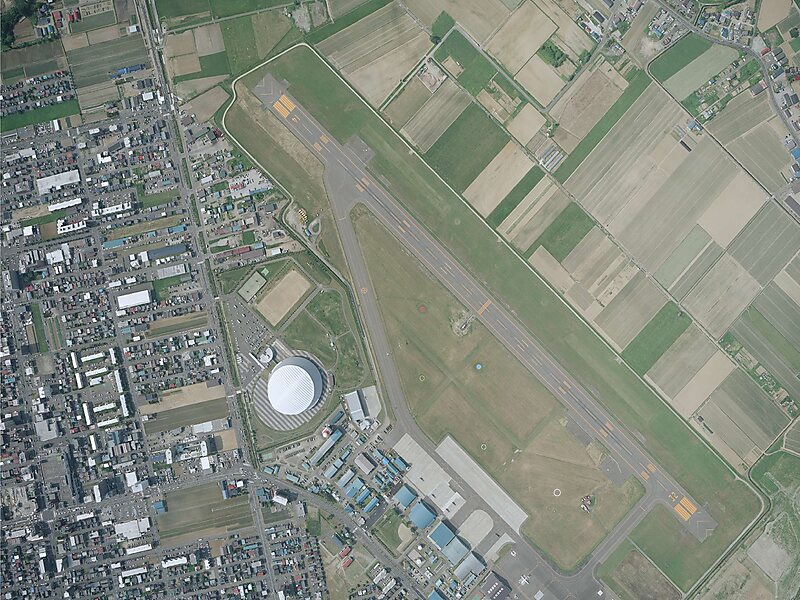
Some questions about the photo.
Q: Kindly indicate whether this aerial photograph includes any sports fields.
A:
Yes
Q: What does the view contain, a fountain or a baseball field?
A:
baseball field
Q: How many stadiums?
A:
one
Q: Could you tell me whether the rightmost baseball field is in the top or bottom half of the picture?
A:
bottom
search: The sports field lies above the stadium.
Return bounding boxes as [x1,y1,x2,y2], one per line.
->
[252,266,315,330]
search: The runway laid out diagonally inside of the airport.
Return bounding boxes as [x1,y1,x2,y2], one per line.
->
[252,73,720,543]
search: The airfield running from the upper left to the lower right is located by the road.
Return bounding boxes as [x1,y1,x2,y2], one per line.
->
[224,47,762,600]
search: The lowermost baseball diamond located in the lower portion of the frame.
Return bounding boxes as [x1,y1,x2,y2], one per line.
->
[370,505,424,560]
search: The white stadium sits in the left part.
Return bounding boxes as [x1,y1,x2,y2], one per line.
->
[263,355,322,413]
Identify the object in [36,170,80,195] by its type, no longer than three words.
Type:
building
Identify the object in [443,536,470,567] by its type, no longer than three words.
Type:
hangar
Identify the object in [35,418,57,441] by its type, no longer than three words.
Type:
building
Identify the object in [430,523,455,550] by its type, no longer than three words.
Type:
hangar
